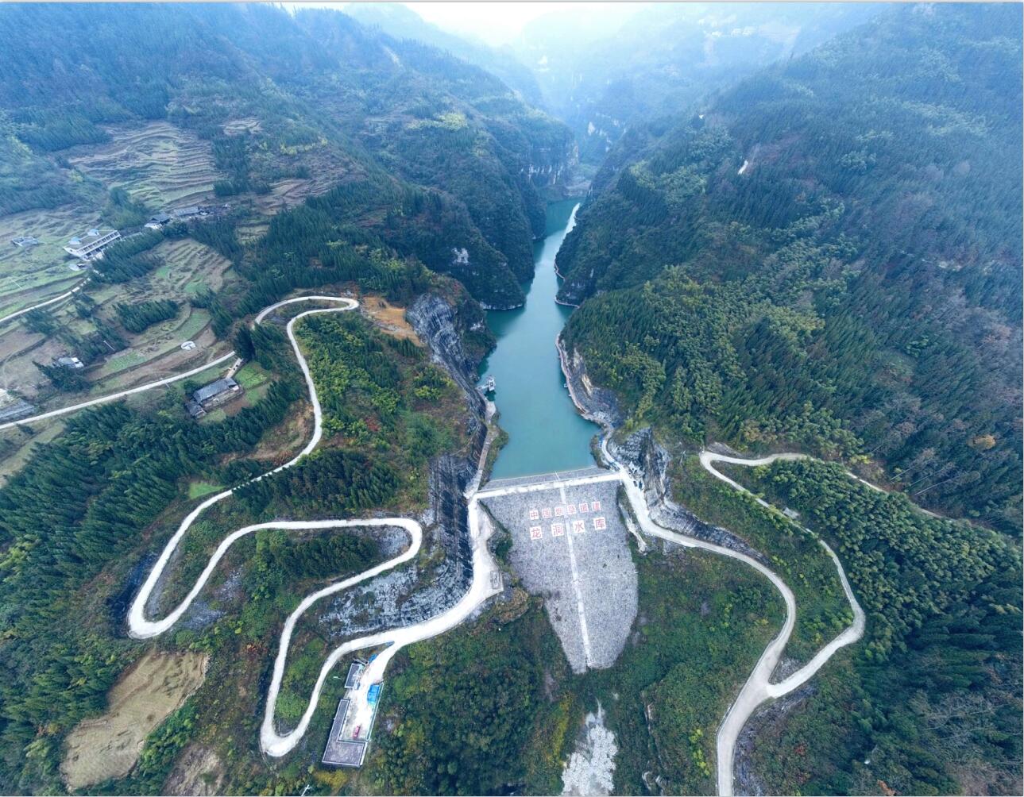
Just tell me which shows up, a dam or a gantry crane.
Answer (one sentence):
I can see a dam in this picture.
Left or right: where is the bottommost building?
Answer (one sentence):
The bottommost building appears in the left half of the scene.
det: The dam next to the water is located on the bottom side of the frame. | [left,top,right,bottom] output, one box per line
[472,468,638,674]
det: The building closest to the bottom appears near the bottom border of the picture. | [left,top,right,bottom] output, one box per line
[320,694,368,767]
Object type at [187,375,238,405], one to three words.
house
